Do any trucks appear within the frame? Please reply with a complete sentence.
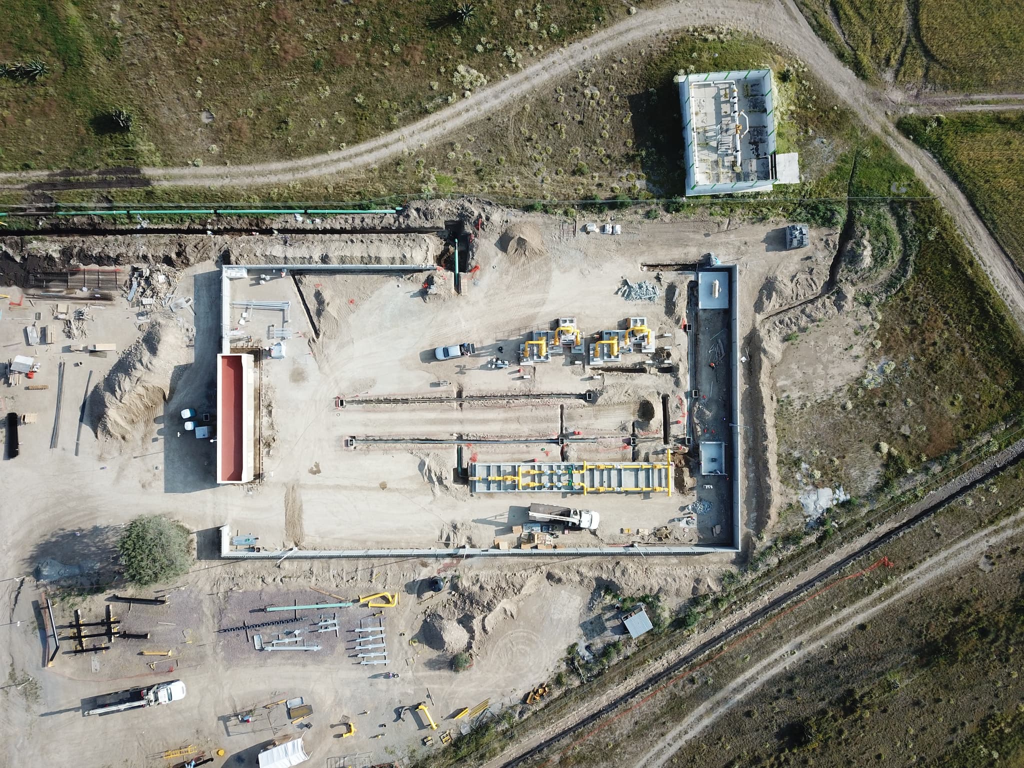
Yes, a truck can be made out from above.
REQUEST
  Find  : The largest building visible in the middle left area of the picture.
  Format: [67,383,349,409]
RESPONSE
[212,353,262,484]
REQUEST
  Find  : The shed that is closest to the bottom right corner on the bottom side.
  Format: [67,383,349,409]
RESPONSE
[620,602,653,639]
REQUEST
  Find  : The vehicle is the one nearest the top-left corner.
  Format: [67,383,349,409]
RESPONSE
[433,343,475,360]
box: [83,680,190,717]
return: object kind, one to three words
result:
truck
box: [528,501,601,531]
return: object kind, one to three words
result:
truck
